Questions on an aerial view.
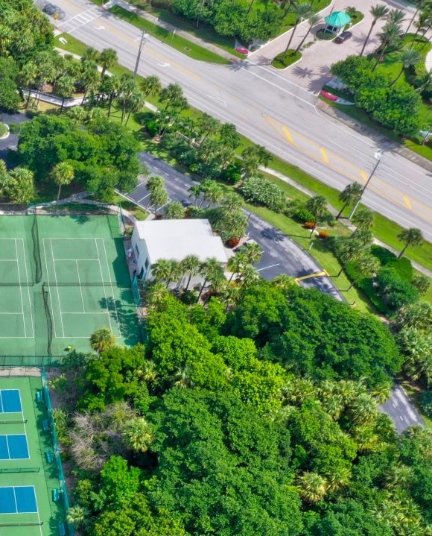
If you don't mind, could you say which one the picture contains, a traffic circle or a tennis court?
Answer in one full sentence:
Of the two, only a tennis court appears.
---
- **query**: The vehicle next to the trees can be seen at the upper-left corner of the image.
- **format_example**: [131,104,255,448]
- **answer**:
[47,1,66,16]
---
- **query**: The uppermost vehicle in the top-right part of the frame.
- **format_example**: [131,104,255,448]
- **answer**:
[333,28,352,41]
